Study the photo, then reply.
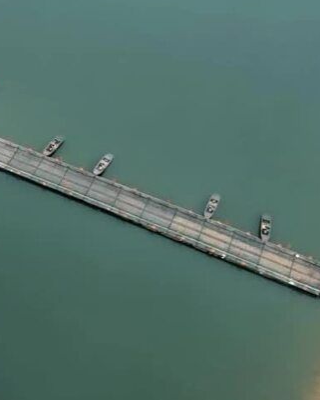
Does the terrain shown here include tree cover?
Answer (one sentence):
No, no tree cover is visible.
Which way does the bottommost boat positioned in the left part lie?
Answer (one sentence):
What the image shows is the bottommost boat positioned in the left part lying on a diagonal.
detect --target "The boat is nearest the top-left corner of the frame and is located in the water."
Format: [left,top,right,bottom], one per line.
[45,136,65,156]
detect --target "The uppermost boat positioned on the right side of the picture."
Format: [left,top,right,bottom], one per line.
[204,193,221,219]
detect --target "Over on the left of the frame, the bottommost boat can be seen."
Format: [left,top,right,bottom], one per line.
[93,154,114,178]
